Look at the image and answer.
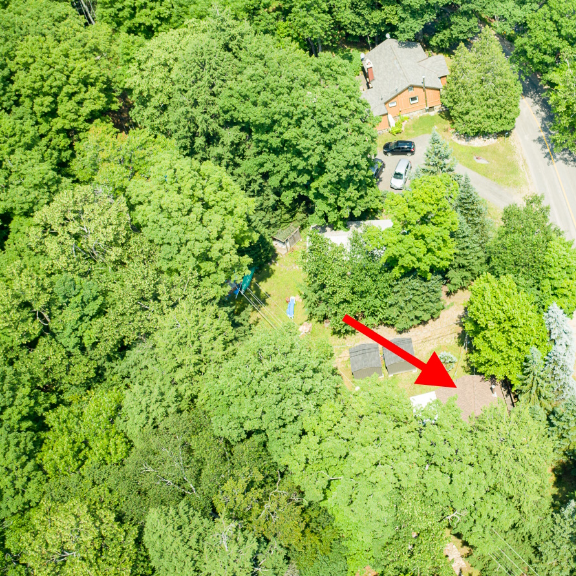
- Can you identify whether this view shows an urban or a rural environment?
rural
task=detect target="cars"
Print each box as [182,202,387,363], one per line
[390,158,412,189]
[382,140,416,156]
[367,155,384,182]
